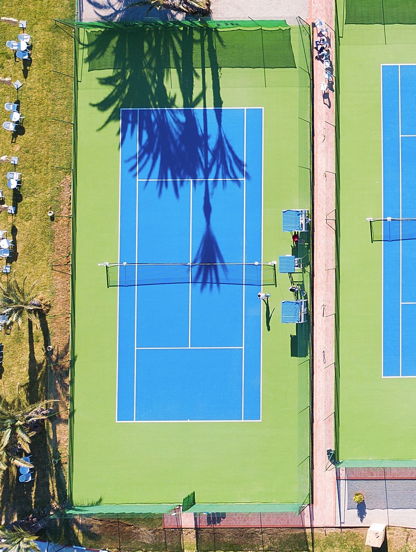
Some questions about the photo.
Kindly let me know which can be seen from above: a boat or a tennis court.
tennis court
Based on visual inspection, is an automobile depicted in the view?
No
